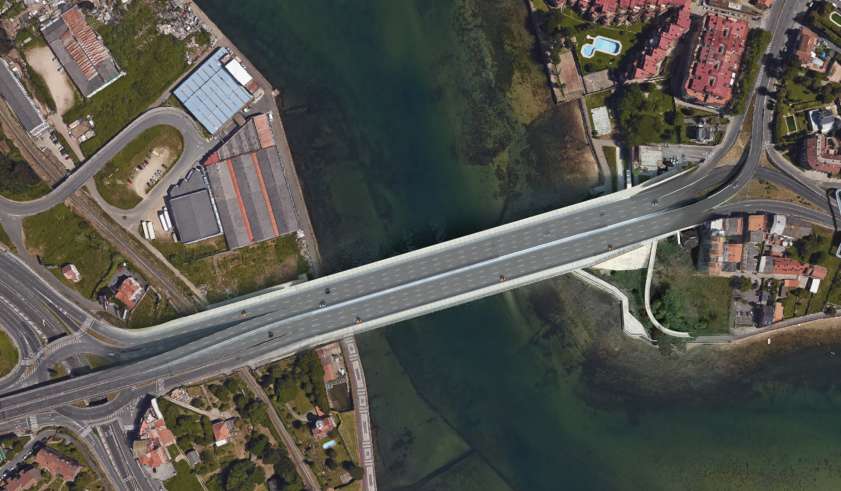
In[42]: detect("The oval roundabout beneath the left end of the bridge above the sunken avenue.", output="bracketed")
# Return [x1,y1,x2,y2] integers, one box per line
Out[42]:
[28,339,136,425]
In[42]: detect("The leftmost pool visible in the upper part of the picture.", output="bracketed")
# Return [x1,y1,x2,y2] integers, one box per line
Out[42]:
[582,36,622,57]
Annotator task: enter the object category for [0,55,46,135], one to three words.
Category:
shed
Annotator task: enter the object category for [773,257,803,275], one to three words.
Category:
house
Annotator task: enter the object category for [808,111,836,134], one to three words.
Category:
house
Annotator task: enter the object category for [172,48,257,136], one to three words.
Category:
building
